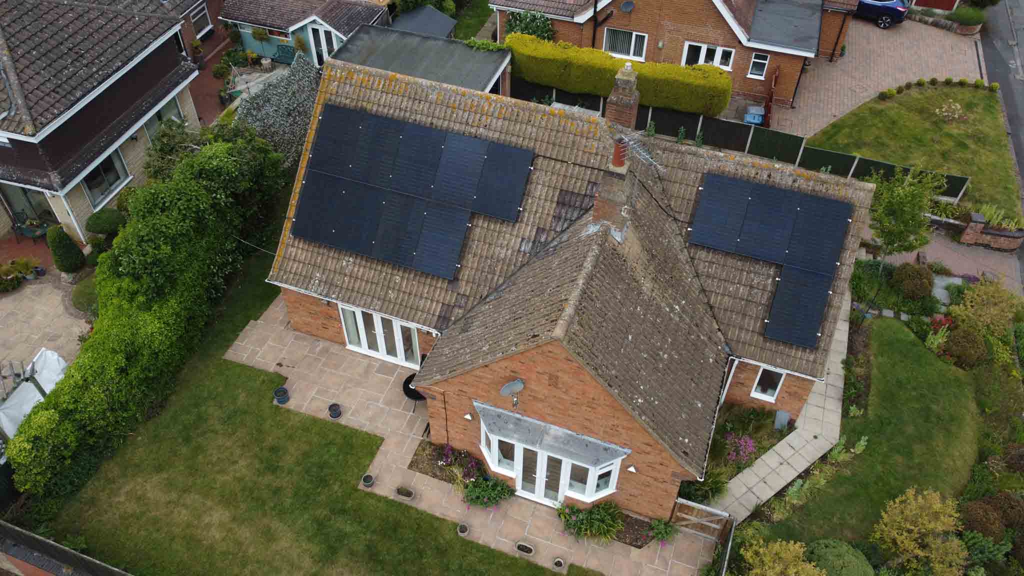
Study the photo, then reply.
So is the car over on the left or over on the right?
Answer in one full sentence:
The car sits on the right side.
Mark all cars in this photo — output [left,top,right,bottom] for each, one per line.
[848,0,914,27]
